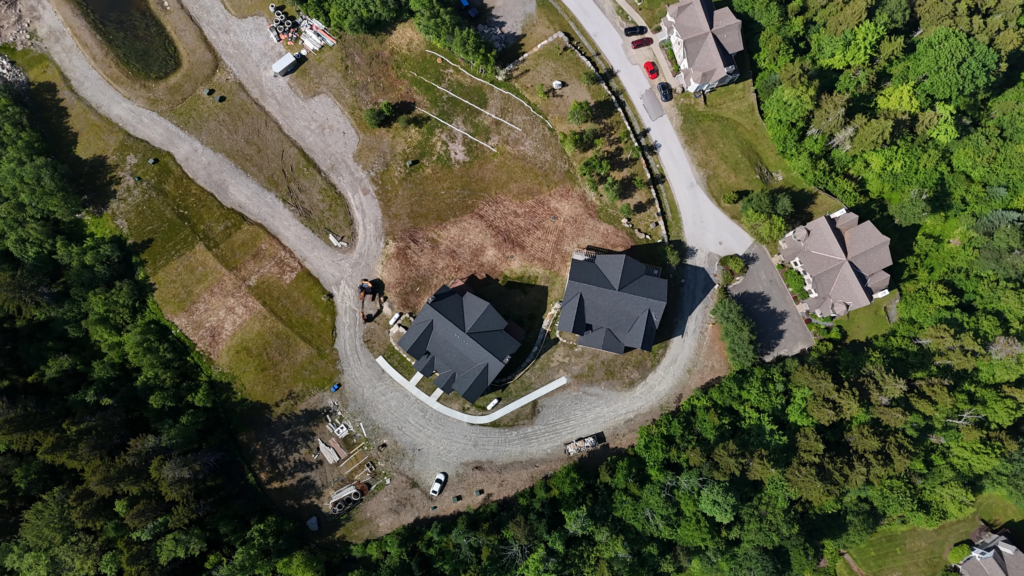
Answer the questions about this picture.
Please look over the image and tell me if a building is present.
Yes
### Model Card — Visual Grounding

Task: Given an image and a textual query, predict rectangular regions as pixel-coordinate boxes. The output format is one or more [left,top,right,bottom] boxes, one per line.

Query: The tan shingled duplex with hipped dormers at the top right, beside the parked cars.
[655,0,744,94]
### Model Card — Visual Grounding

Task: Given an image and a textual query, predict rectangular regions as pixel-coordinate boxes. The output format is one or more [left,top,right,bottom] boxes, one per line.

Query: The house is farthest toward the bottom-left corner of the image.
[397,277,527,404]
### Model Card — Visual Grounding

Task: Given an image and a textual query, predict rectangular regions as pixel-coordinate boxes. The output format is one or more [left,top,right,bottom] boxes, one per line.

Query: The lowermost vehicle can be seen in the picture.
[429,472,445,497]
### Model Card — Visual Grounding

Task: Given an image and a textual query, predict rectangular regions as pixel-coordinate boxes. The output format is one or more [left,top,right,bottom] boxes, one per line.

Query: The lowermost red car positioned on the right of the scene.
[643,61,657,80]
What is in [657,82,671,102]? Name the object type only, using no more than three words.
car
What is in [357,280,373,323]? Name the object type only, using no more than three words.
work vehicle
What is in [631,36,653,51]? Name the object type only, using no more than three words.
car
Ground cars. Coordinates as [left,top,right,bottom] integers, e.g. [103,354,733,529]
[631,36,653,51]
[643,61,657,80]
[625,24,647,39]
[429,472,445,497]
[657,82,671,102]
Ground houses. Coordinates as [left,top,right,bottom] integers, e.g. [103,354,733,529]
[558,248,667,356]
[771,208,893,317]
[655,0,744,94]
[949,532,1024,576]
[397,277,527,404]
